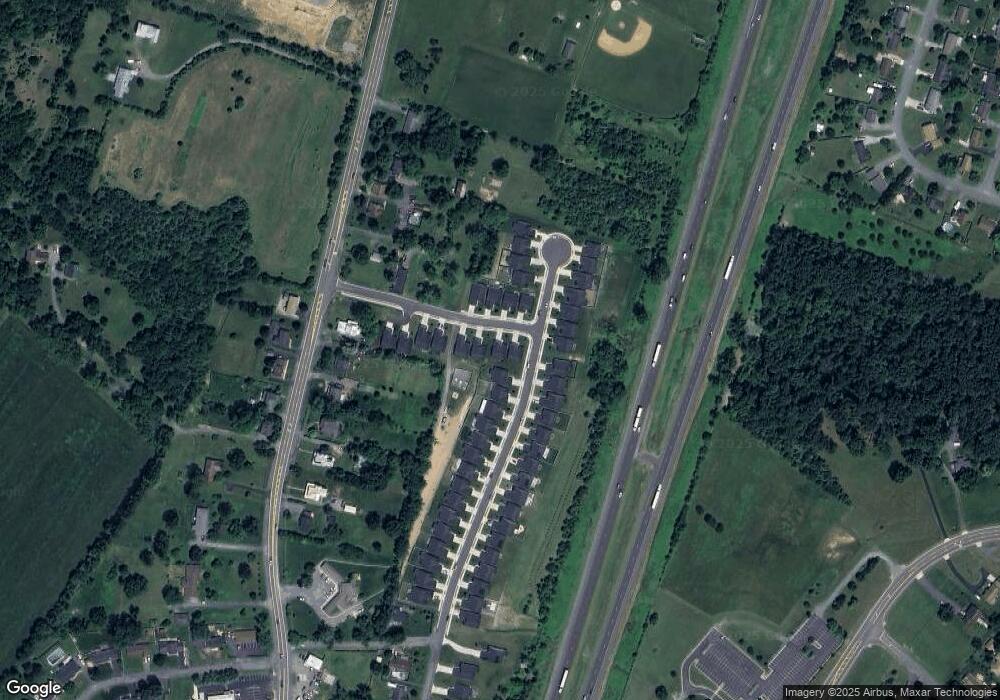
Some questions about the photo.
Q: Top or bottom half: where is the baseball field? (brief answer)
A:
top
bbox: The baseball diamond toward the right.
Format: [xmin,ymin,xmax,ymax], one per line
[598,0,651,57]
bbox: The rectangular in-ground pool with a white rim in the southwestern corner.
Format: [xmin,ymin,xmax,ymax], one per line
[48,648,65,665]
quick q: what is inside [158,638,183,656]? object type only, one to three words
house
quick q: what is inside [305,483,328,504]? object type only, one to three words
house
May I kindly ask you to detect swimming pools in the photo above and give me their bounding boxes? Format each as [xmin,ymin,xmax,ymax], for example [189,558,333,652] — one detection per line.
[942,223,953,233]
[48,648,65,665]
